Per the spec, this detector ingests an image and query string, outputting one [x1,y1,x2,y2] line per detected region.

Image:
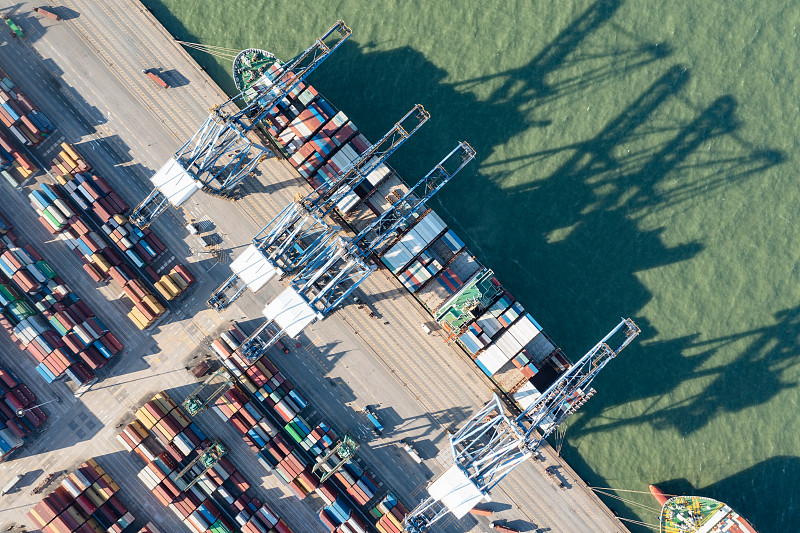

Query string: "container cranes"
[200,101,434,318]
[180,363,242,418]
[398,317,643,533]
[309,426,361,485]
[123,16,356,234]
[173,431,237,492]
[234,139,479,367]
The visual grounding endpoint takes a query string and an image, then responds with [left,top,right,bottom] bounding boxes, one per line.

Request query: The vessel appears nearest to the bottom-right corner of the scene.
[648,483,759,533]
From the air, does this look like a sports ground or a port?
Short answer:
port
